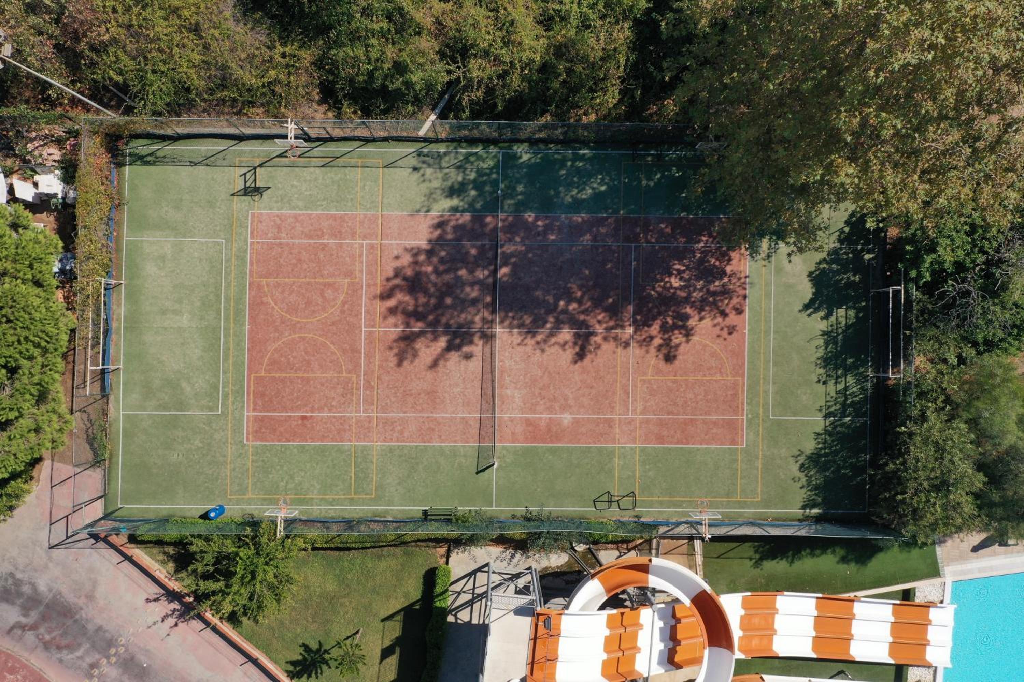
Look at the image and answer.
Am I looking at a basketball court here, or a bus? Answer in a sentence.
The one in the frame is a basketball court.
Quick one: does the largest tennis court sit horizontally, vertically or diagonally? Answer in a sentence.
Seen from above, the largest tennis court lies horizontally.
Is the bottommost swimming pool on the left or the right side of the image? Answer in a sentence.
The bottommost swimming pool appears in the right half of the scene.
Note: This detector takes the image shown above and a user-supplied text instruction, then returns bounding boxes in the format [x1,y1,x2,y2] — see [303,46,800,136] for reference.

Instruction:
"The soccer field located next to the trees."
[104,139,884,526]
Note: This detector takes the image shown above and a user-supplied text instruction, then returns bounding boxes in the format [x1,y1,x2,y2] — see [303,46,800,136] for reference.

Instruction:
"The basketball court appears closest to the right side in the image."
[616,161,766,501]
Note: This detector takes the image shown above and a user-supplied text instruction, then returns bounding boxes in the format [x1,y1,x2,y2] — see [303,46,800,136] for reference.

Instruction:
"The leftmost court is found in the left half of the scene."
[228,158,382,498]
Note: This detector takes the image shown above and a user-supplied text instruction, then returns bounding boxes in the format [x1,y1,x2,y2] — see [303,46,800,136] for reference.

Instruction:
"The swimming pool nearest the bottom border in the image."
[936,567,1024,682]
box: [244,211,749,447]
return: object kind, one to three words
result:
tennis court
